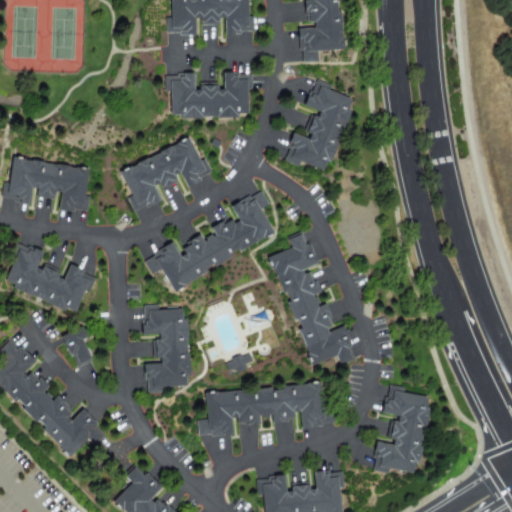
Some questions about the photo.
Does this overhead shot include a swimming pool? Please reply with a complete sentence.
Yes, the image includes a swimming pool.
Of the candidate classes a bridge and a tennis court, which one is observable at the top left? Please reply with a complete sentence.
What appears at the top left is a tennis court.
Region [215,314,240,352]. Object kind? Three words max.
swimming pool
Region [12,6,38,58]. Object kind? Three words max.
tennis court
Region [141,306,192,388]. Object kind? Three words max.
building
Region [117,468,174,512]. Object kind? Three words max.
building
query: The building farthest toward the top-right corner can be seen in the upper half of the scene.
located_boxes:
[300,0,344,58]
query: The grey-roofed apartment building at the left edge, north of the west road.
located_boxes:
[0,158,88,210]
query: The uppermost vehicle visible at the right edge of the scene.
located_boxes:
[497,364,510,383]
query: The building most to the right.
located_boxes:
[376,385,428,473]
